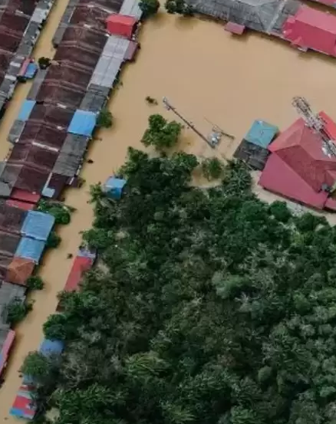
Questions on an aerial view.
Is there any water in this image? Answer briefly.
Yes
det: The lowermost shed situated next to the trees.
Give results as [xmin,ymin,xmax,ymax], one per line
[10,385,40,420]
